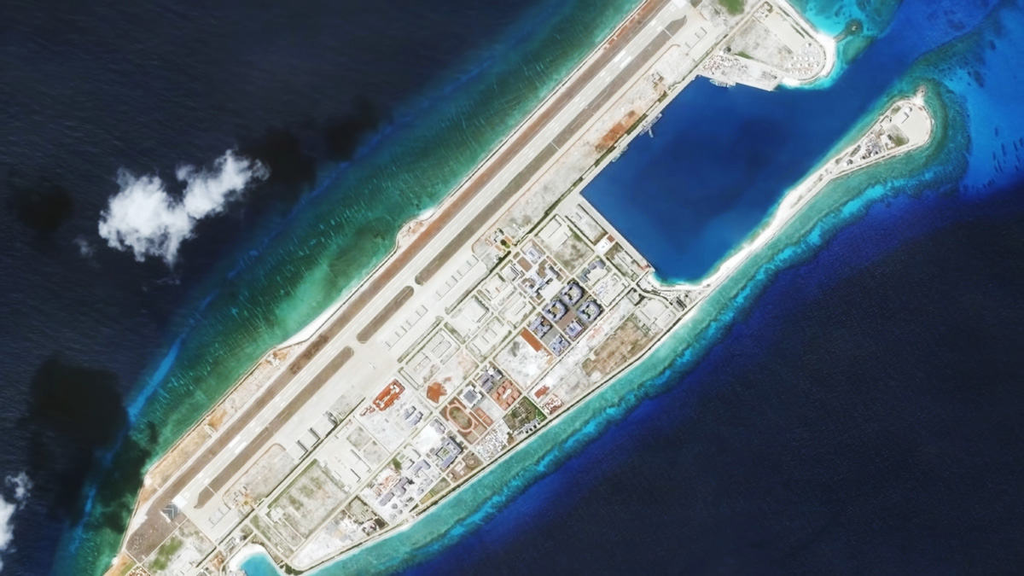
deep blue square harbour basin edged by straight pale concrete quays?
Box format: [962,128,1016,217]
[553,63,781,274]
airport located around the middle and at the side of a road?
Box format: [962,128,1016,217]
[142,0,717,560]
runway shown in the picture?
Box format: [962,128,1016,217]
[171,0,690,511]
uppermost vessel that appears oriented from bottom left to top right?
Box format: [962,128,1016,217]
[639,115,663,136]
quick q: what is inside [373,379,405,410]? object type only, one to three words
building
